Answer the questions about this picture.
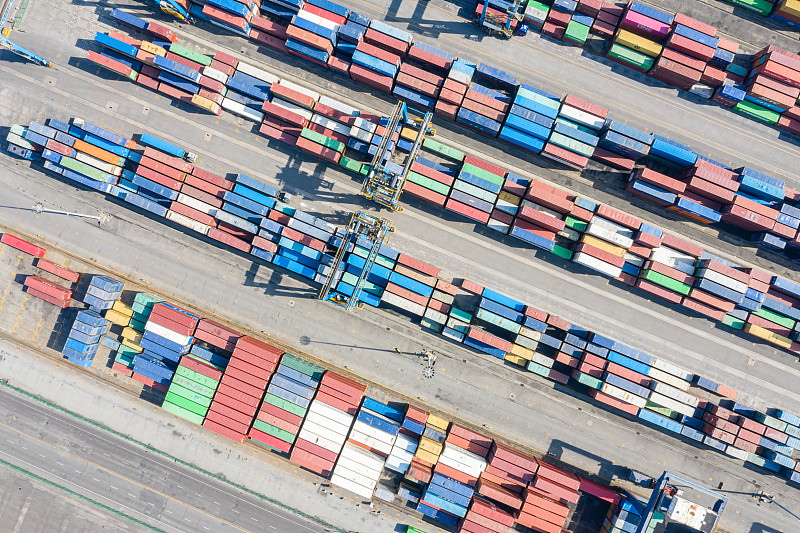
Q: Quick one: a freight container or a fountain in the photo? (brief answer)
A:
freight container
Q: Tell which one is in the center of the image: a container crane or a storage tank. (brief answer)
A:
container crane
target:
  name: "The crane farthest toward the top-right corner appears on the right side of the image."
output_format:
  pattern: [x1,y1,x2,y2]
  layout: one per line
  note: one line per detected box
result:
[466,0,523,41]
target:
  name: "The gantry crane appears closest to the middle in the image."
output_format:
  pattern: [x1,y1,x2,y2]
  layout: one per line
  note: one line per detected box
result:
[312,205,405,319]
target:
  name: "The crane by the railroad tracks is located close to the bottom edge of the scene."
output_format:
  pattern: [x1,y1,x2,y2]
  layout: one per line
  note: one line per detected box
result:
[613,467,731,533]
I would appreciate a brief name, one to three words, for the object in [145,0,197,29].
container crane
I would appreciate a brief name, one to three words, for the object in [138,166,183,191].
shipping container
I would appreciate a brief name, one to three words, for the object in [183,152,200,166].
vehicle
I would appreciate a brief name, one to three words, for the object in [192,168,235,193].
shipping container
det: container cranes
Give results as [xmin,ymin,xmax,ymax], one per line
[613,467,731,533]
[145,0,197,29]
[0,0,61,70]
[359,97,443,215]
[466,0,523,41]
[312,205,405,319]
